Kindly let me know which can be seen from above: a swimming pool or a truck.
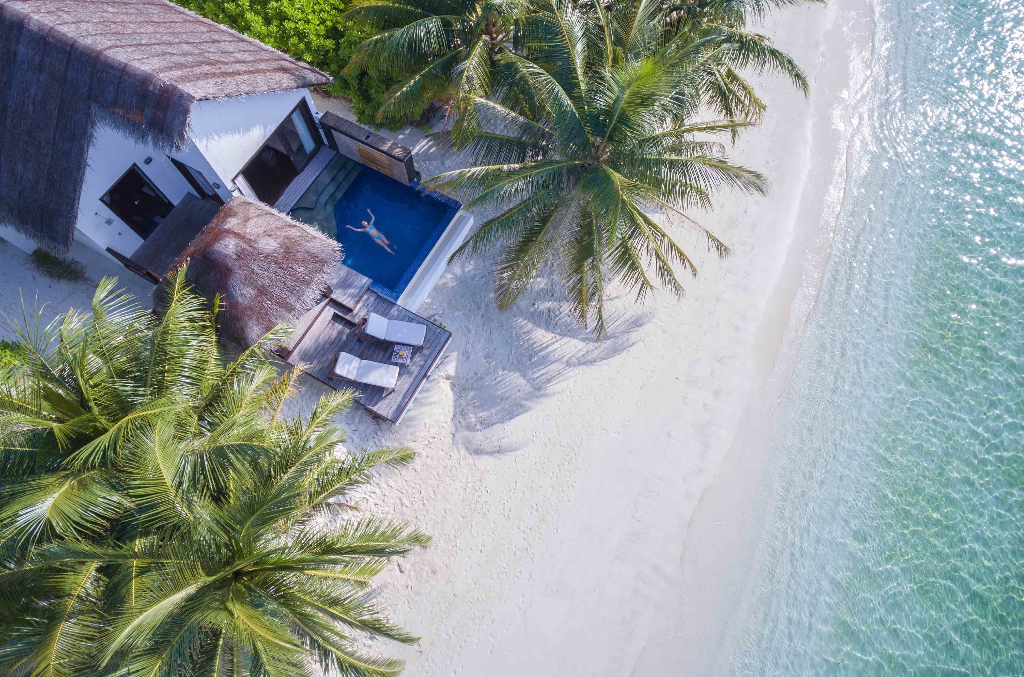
swimming pool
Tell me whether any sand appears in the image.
Yes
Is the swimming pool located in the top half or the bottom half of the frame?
top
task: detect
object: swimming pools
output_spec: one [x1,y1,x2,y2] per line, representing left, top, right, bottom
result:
[293,150,480,316]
